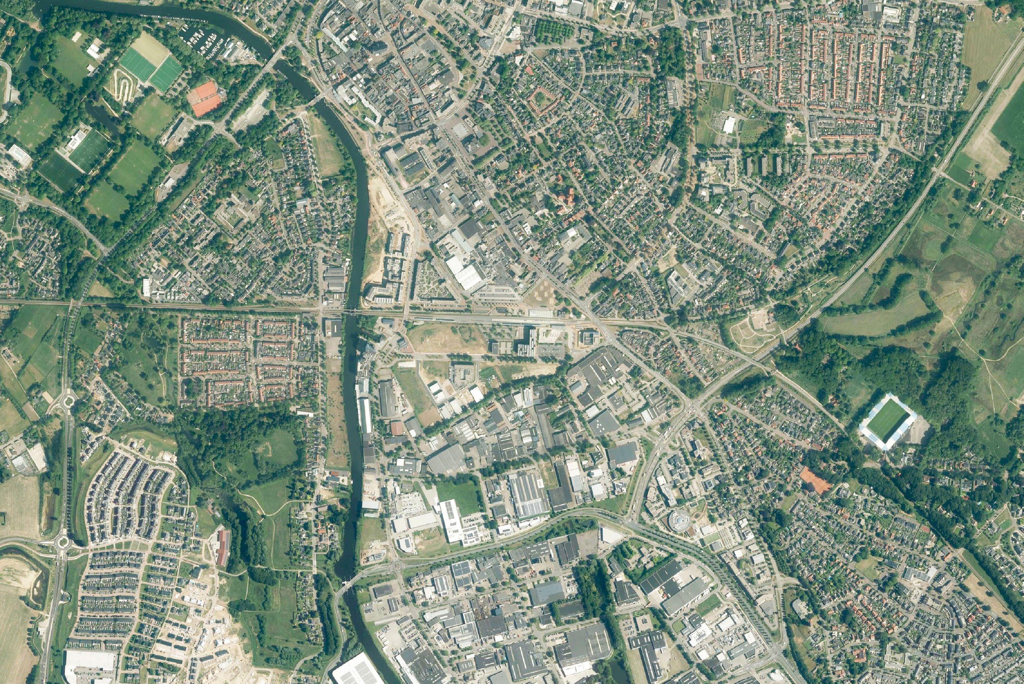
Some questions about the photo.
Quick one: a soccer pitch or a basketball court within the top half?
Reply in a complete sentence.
There is a soccer pitch within the top half.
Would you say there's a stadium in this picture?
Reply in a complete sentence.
Yes, a stadium can be made out from above.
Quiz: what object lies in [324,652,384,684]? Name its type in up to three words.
building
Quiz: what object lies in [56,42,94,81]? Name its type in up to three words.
soccer field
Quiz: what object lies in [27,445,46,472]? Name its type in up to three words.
building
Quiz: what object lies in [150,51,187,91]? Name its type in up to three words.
sports field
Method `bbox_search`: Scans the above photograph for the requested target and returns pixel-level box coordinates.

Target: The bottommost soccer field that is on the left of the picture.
[89,182,128,218]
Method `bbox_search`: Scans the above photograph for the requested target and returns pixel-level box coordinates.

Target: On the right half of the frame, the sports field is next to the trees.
[867,399,910,443]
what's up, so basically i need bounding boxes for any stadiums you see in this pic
[860,392,917,450]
